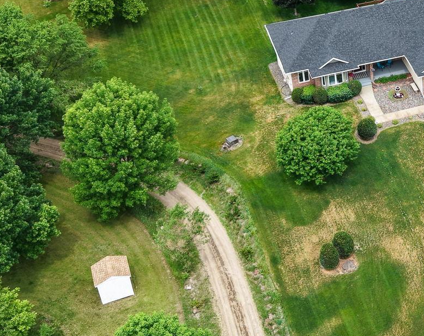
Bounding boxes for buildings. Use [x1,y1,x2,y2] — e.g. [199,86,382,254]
[90,256,135,304]
[265,0,424,100]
